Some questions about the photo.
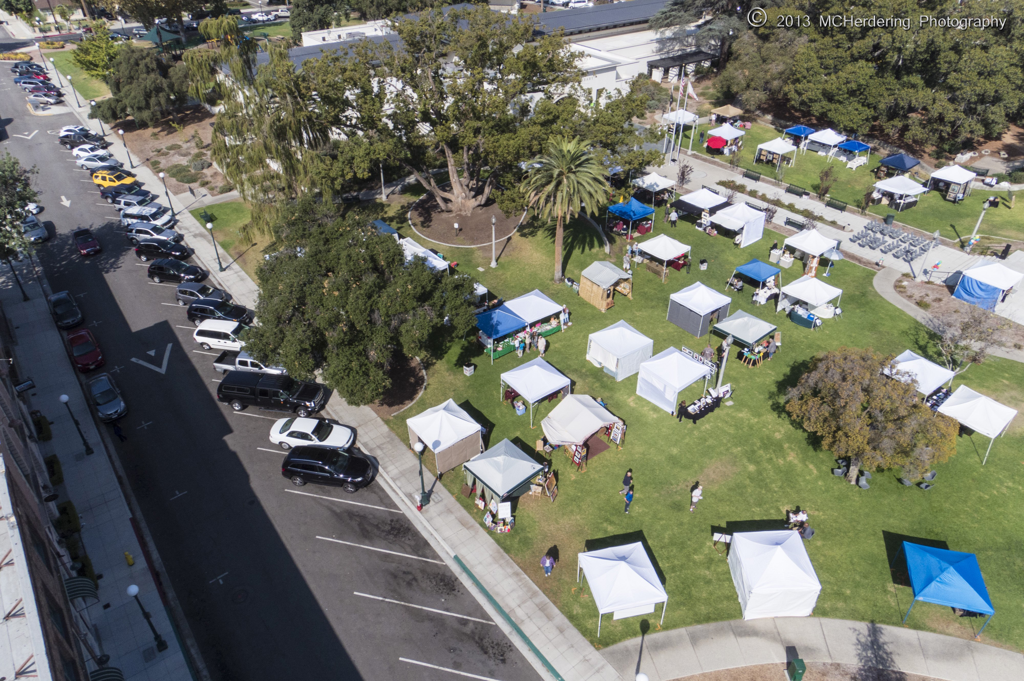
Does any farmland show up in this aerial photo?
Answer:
No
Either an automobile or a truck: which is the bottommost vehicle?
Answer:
automobile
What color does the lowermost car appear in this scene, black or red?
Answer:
black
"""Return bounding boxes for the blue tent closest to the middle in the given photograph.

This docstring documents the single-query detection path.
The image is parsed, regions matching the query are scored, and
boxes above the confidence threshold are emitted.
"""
[473,298,524,343]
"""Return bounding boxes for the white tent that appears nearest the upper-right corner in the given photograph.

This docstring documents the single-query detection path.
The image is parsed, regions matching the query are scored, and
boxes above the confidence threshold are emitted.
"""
[926,165,976,205]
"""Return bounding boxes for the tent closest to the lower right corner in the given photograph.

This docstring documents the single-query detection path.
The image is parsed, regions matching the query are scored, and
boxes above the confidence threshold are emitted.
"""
[884,542,994,648]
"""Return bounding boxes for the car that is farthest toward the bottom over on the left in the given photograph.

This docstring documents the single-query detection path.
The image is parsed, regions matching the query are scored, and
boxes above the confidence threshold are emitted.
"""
[280,443,378,497]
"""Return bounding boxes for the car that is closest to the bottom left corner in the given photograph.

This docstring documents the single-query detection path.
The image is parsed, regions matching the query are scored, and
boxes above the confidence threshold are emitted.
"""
[86,365,134,420]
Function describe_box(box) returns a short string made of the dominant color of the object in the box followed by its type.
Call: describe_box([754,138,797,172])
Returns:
white tent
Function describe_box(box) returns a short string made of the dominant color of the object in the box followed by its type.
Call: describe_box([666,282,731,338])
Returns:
white tent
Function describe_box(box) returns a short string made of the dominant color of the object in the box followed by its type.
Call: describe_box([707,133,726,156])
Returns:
red umbrella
